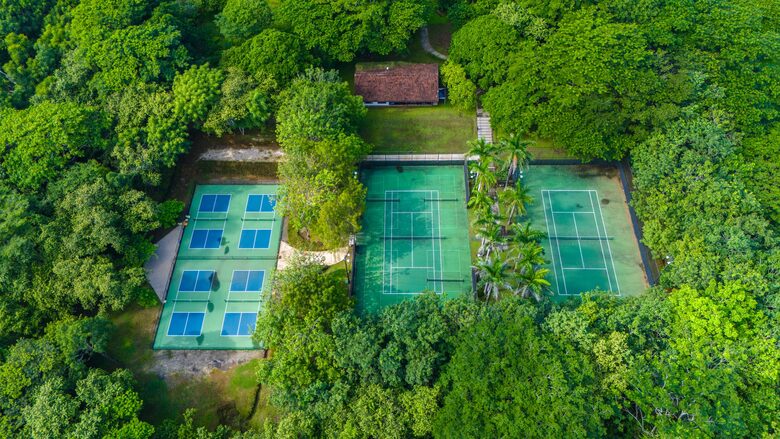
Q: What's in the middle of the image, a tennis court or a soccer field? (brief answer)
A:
tennis court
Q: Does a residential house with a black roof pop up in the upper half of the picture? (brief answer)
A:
No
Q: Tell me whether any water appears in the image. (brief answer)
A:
No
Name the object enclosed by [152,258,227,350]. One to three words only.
sports court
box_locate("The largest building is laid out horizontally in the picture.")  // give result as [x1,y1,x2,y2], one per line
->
[354,63,448,107]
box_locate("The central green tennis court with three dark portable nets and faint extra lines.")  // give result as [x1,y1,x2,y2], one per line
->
[352,165,476,319]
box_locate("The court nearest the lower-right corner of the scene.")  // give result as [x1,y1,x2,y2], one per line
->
[521,162,658,309]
